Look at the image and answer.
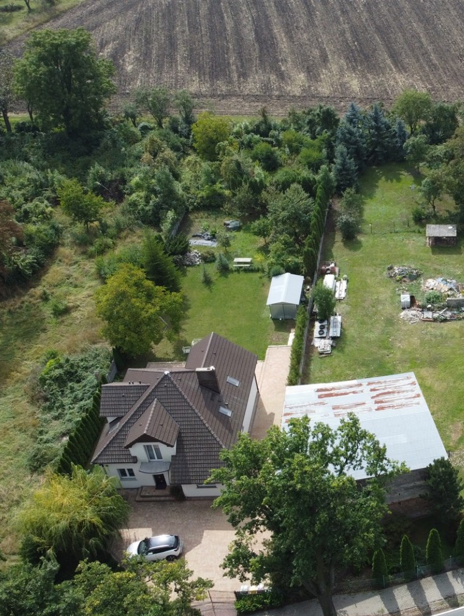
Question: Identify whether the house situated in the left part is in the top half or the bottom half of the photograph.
bottom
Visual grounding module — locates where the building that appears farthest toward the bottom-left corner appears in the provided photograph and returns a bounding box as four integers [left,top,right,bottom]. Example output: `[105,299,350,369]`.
[87,330,259,510]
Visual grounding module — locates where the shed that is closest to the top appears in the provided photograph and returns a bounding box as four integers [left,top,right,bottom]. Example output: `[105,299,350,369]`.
[427,225,456,248]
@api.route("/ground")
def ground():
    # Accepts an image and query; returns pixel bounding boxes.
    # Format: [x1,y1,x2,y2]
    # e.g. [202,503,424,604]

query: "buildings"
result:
[427,225,456,248]
[281,372,445,524]
[87,330,259,510]
[266,271,303,318]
